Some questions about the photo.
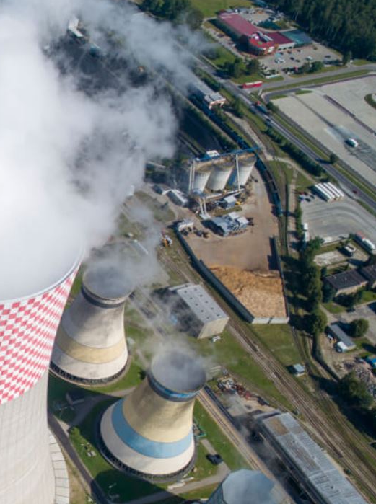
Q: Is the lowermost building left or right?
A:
right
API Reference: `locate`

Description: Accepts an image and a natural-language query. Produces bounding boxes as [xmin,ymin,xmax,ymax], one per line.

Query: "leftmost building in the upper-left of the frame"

[68,25,95,46]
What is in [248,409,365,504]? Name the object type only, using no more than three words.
building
